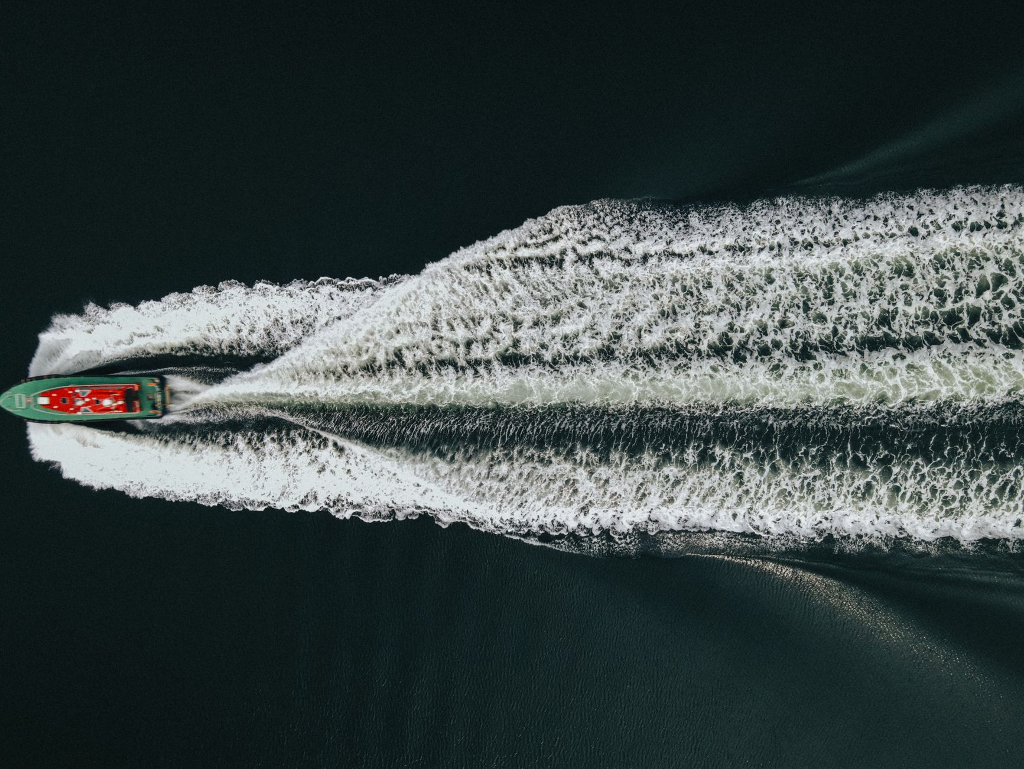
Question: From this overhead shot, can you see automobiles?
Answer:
No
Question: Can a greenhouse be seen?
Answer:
No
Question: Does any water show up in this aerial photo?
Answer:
Yes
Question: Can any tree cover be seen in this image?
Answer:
No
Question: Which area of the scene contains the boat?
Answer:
left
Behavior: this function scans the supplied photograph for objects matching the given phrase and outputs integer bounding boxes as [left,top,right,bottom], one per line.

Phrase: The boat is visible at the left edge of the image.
[0,375,170,426]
